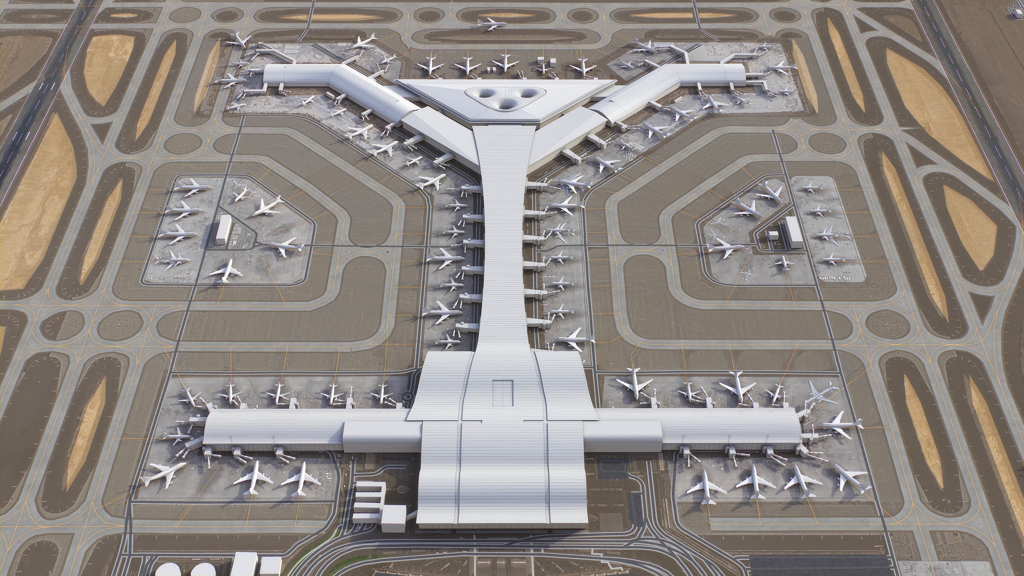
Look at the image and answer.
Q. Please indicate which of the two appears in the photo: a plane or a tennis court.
plane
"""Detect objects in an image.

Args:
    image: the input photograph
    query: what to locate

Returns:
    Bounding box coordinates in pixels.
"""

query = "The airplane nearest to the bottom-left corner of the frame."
[140,462,186,488]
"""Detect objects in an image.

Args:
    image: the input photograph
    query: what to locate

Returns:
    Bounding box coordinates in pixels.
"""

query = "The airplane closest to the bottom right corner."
[832,463,873,492]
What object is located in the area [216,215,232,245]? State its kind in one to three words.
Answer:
hangar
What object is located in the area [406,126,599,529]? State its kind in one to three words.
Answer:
building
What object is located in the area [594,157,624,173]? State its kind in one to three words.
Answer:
airplane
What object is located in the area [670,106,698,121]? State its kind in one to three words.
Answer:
airplane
